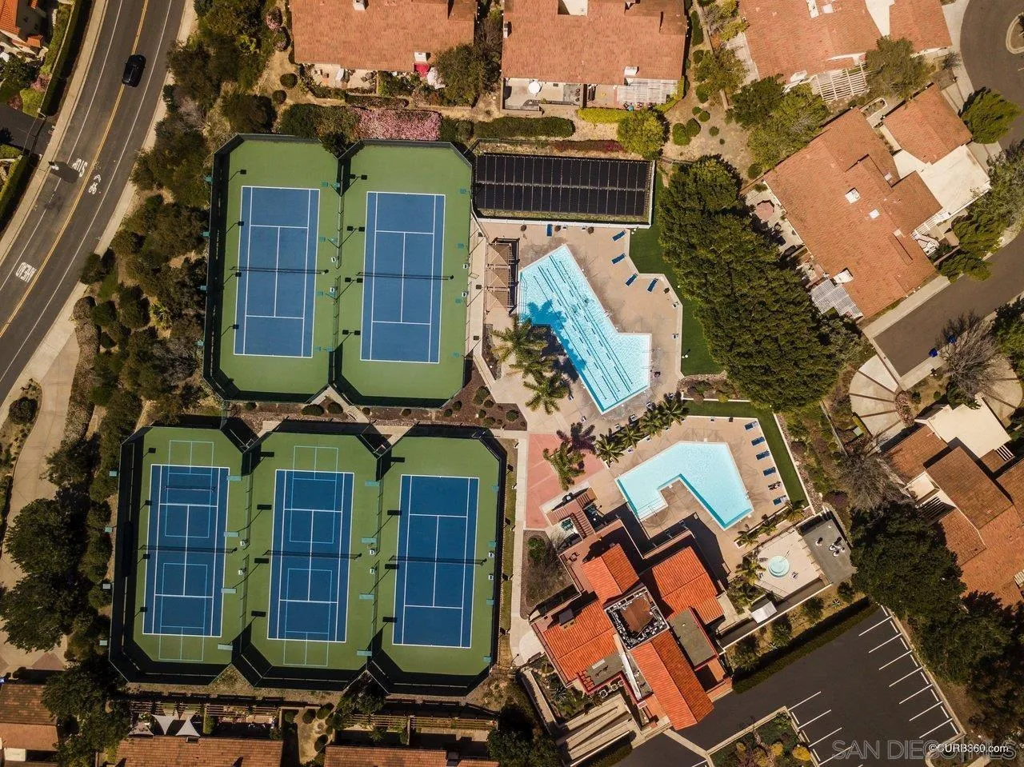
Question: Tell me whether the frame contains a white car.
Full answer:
No, there's no white car here.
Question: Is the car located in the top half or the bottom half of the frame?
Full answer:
The car is in the top half of the image.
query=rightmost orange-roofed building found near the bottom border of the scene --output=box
[528,512,733,741]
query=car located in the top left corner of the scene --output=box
[122,53,146,89]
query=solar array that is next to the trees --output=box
[474,155,647,216]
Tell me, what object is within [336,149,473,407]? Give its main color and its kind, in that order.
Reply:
green tennis court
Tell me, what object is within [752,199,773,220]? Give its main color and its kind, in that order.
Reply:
red umbrella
